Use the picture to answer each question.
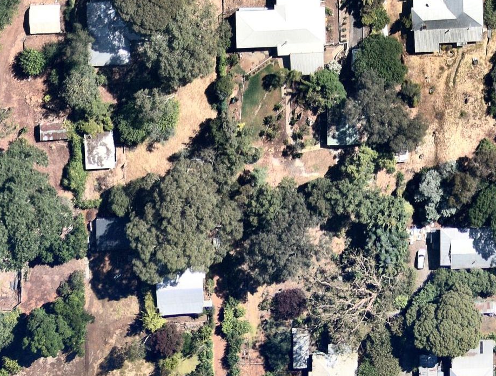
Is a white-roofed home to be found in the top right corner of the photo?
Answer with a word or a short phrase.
Yes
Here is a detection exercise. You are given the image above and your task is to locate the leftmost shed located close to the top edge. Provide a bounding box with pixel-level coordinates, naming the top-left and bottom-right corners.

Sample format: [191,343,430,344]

[29,2,61,34]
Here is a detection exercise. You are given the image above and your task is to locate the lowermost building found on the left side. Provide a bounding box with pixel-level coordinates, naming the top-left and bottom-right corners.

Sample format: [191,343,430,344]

[157,269,213,316]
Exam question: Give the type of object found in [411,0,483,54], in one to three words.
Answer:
house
